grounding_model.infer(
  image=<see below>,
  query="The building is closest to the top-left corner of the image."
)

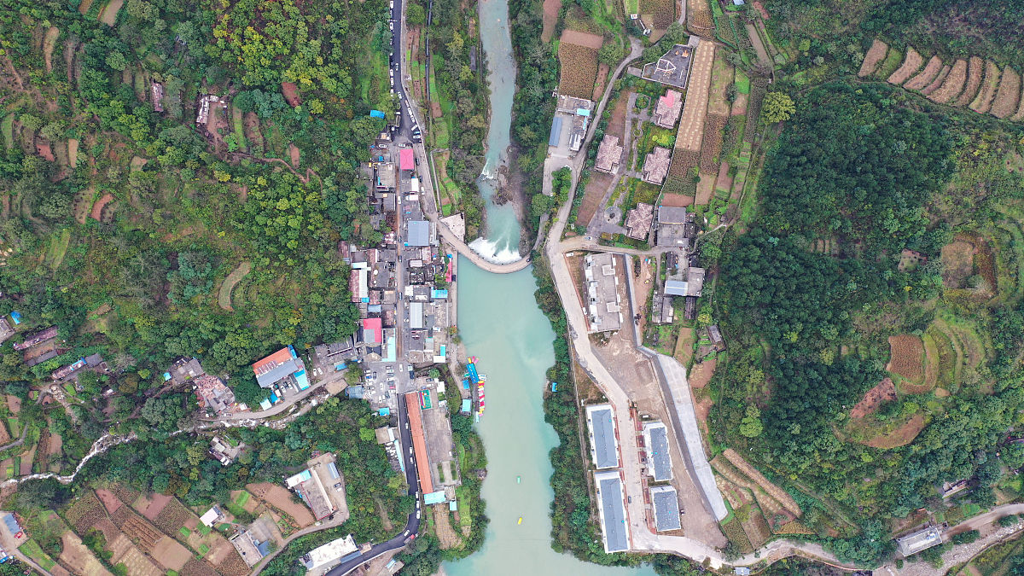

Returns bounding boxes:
[151,83,169,115]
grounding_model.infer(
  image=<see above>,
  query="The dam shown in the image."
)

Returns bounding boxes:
[438,220,533,274]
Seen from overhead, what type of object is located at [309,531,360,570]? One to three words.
building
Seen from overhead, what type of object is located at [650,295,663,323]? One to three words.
house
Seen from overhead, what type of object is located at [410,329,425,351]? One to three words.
house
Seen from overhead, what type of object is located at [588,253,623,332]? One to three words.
building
